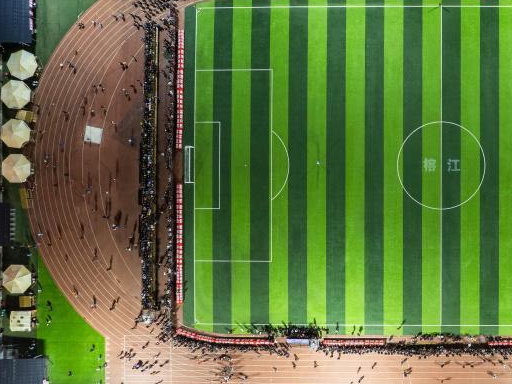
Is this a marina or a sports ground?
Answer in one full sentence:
The area seen from above is a sports ground.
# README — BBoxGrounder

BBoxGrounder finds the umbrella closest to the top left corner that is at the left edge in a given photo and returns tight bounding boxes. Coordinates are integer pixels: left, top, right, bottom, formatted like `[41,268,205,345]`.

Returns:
[7,49,42,80]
